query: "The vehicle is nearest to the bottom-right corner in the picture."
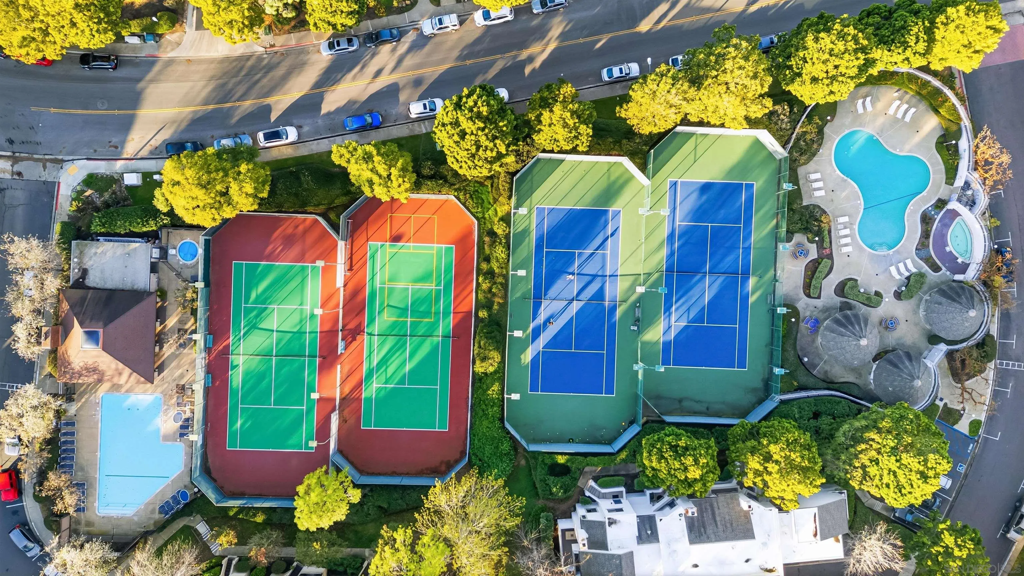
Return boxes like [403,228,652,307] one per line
[998,497,1024,537]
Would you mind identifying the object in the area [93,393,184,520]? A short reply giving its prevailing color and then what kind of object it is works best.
blue swimming pool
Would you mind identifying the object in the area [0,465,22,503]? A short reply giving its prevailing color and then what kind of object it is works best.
red car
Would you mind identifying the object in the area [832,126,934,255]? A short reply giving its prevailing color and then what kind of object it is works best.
blue swimming pool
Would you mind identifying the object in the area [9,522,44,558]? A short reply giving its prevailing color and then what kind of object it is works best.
blue car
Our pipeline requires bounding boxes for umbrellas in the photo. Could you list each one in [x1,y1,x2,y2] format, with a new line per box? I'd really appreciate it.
[920,283,985,346]
[872,345,937,404]
[817,309,879,369]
